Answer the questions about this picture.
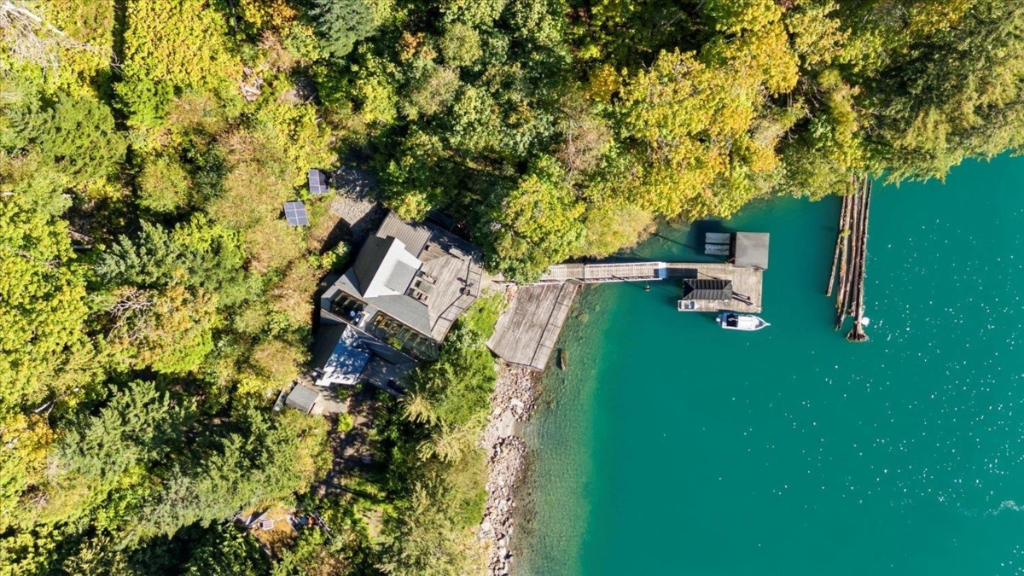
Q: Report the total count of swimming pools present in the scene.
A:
0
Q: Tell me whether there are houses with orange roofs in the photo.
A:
No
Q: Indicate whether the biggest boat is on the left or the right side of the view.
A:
right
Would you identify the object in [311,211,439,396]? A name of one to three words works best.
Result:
house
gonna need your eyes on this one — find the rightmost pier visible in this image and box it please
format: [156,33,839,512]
[667,262,762,313]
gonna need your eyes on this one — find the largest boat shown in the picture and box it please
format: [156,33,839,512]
[718,311,770,331]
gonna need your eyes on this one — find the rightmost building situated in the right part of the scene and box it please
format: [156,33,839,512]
[727,232,769,269]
